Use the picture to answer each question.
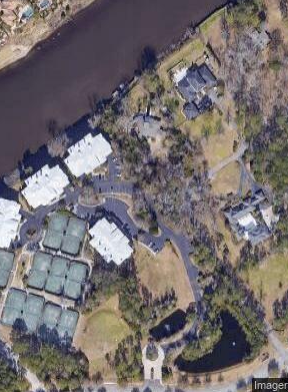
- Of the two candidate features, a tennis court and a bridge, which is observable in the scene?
tennis court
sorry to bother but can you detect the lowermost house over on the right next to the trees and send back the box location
[226,194,276,245]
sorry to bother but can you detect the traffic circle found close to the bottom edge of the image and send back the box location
[142,344,163,384]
